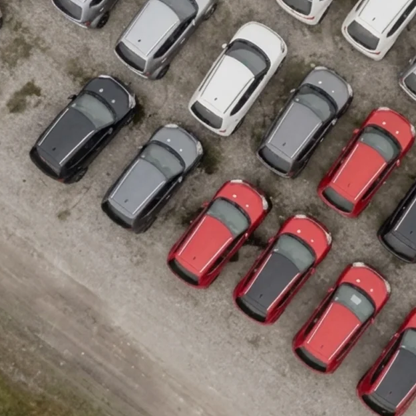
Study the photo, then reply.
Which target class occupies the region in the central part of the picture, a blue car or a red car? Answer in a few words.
red car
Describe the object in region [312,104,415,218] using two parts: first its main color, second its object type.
red car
